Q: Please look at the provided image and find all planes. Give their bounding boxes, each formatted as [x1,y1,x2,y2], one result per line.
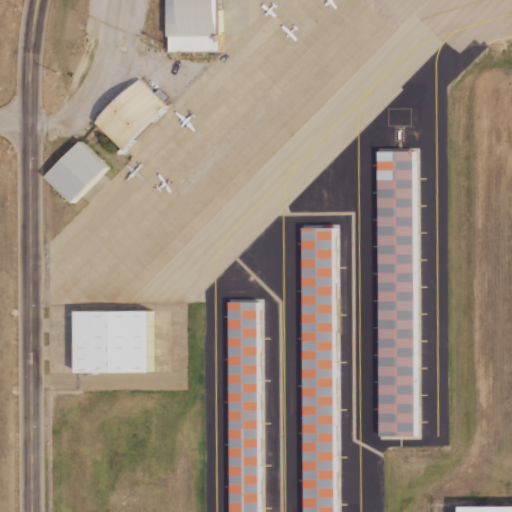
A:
[327,0,336,9]
[158,172,171,194]
[282,24,298,42]
[127,162,143,181]
[176,110,195,134]
[262,2,277,18]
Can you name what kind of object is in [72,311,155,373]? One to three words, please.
hangar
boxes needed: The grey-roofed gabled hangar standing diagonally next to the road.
[44,142,111,203]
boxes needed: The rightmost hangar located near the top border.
[166,0,227,53]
